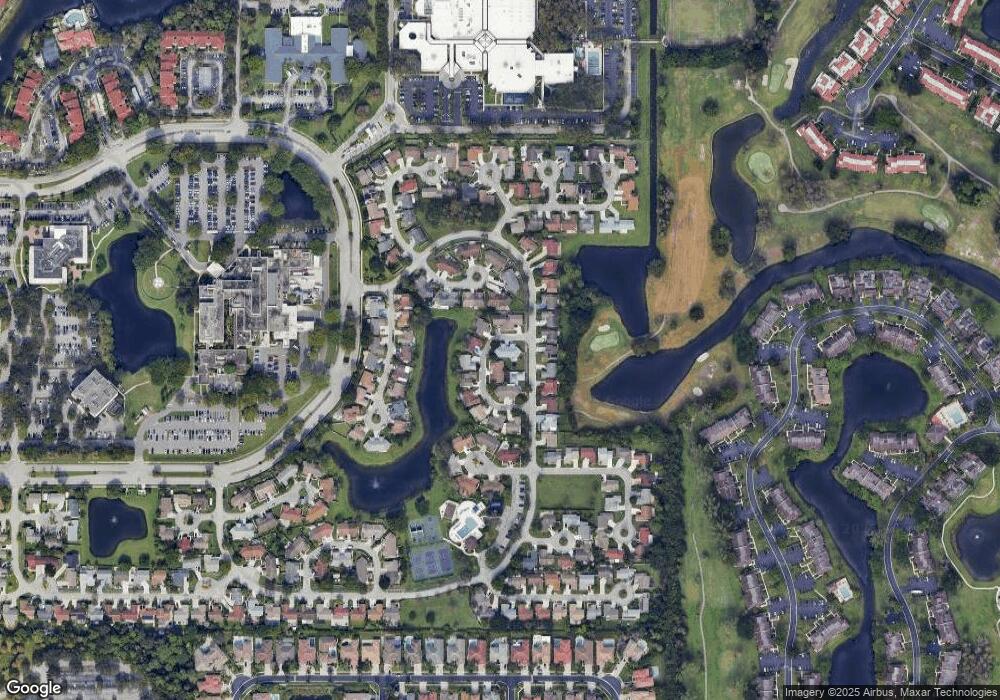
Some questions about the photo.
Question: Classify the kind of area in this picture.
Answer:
residential area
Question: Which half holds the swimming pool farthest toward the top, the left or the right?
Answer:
left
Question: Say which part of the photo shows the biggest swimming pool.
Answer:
bottom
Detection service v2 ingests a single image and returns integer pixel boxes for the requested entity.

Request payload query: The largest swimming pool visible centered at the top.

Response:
[586,47,603,75]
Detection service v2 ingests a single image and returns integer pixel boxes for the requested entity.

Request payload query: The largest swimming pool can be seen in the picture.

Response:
[440,501,485,543]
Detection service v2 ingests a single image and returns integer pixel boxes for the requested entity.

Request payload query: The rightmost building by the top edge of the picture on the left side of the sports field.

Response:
[399,0,574,103]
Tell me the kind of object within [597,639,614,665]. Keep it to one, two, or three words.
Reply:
house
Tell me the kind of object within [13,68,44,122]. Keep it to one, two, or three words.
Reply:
building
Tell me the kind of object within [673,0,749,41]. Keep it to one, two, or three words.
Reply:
sports field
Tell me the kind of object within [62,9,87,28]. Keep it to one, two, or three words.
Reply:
swimming pool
